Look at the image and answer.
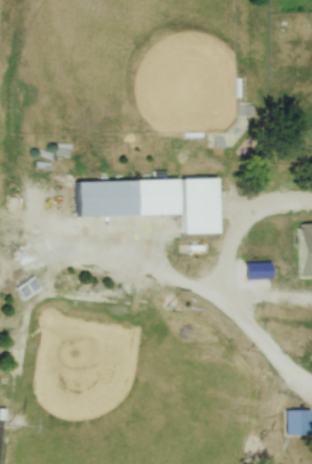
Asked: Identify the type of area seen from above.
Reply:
sports ground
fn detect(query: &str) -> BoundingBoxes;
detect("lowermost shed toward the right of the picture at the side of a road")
[284,410,312,438]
